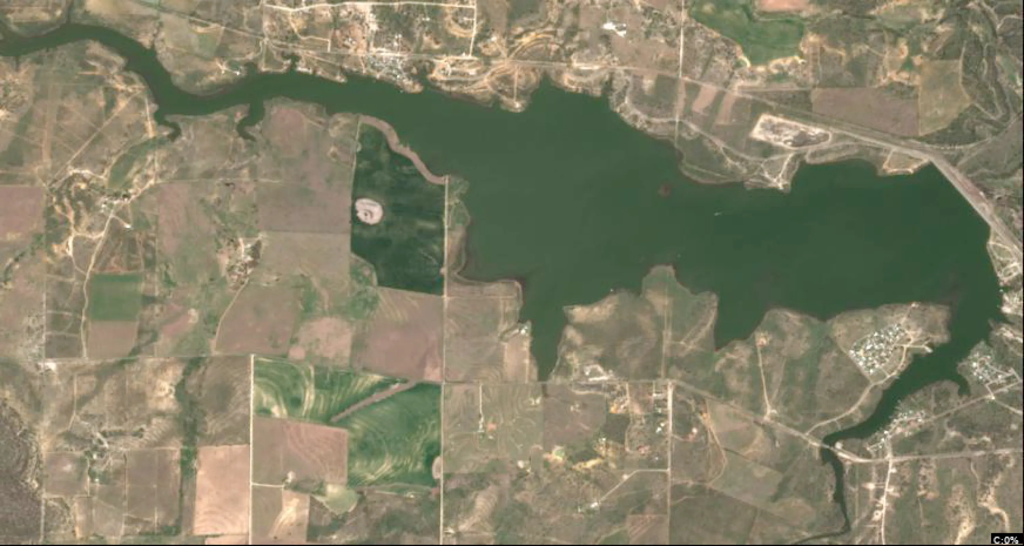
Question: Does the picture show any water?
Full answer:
Yes, water can be seen from above here.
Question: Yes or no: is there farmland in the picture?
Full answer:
Yes, some farmland is visible.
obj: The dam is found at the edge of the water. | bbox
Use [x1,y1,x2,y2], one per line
[926,148,1024,257]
